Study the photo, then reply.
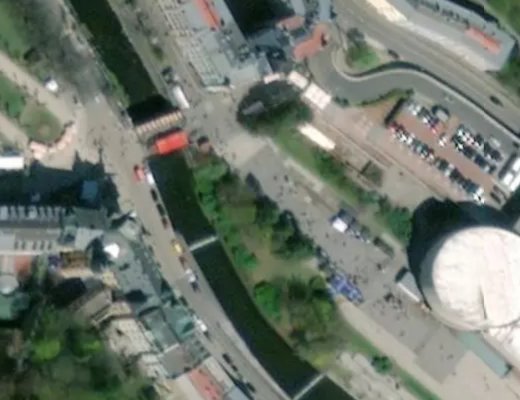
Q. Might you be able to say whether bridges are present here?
Yes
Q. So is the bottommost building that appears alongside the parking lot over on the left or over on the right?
right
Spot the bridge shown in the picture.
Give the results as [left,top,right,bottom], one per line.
[129,107,193,162]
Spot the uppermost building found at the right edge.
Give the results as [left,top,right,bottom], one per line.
[390,0,517,76]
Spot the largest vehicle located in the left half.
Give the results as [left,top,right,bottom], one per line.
[172,86,188,108]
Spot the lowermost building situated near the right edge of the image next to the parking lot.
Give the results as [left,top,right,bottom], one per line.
[424,226,520,337]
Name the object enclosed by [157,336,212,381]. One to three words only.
house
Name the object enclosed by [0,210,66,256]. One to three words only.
building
